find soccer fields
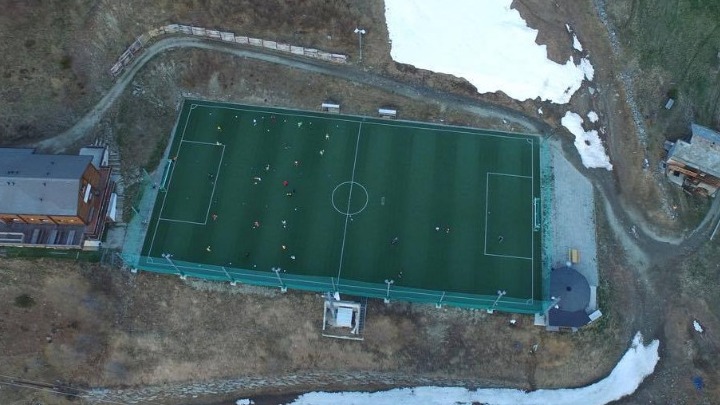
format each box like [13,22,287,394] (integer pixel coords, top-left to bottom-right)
[136,97,542,312]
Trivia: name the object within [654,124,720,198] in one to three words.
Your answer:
barn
